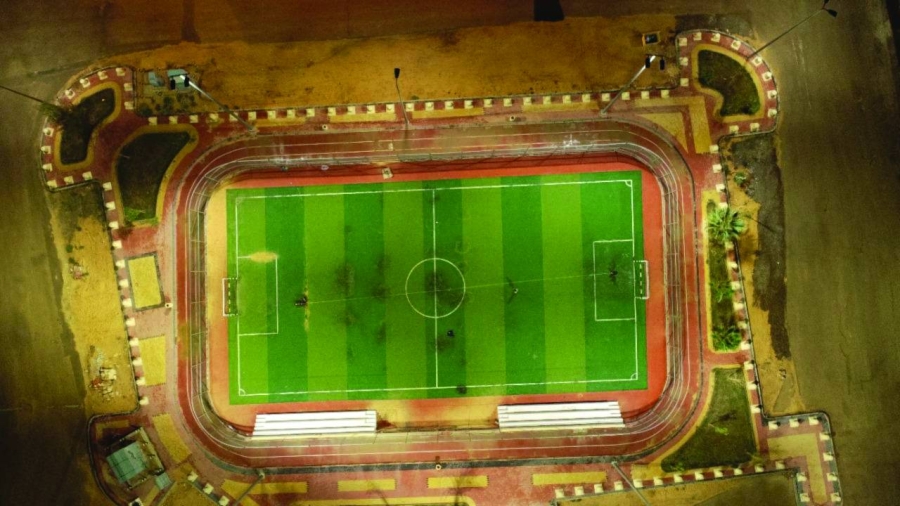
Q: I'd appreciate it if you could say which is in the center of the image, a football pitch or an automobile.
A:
football pitch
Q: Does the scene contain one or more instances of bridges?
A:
No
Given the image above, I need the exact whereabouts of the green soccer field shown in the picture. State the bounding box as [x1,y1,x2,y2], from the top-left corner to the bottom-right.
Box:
[226,170,649,405]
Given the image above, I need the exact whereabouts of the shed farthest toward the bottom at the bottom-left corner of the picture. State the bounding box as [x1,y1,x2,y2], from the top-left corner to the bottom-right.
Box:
[106,425,170,489]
